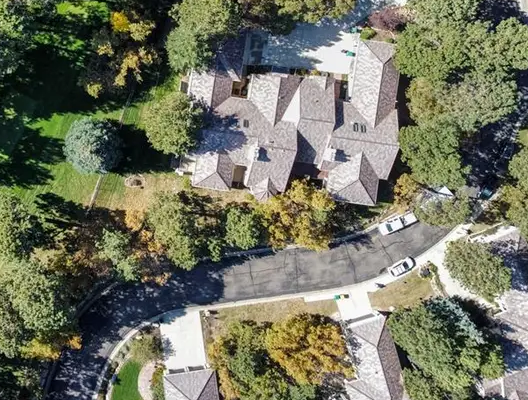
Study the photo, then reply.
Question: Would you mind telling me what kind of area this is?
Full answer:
The area seen from above is a residential area.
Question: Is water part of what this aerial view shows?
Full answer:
No, water can't be seen anywhere here.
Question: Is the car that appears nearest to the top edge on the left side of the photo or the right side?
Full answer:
You can find the car that appears nearest to the top edge on the right side of the picture.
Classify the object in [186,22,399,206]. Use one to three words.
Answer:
house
